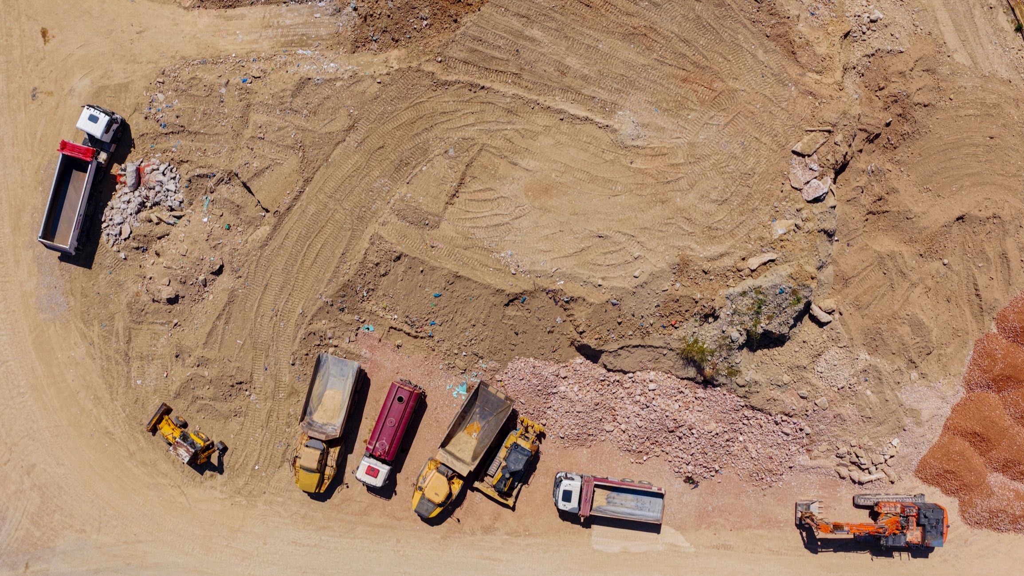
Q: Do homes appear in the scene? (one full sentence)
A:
No, I can see no home in this picture.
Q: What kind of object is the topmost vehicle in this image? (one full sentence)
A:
The topmost vehicle appears to be a truck.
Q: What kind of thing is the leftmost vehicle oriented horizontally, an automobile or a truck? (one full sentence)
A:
It looks like the leftmost vehicle oriented horizontally is a truck.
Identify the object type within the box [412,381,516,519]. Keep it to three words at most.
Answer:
truck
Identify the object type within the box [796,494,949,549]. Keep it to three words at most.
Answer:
work vehicle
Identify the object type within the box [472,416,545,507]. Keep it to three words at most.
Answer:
work vehicle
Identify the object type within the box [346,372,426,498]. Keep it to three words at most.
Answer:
truck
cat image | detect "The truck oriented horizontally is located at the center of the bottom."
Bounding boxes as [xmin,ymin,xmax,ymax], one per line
[549,468,666,524]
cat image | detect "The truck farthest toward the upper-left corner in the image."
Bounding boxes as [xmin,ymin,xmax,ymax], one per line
[36,102,128,256]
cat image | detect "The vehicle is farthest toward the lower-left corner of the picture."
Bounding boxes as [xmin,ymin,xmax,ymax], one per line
[150,402,227,467]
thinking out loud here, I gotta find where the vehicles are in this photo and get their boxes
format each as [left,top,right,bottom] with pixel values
[796,494,949,549]
[472,416,545,507]
[346,372,426,498]
[412,381,516,519]
[549,468,666,524]
[36,102,128,256]
[150,402,227,467]
[290,354,364,496]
